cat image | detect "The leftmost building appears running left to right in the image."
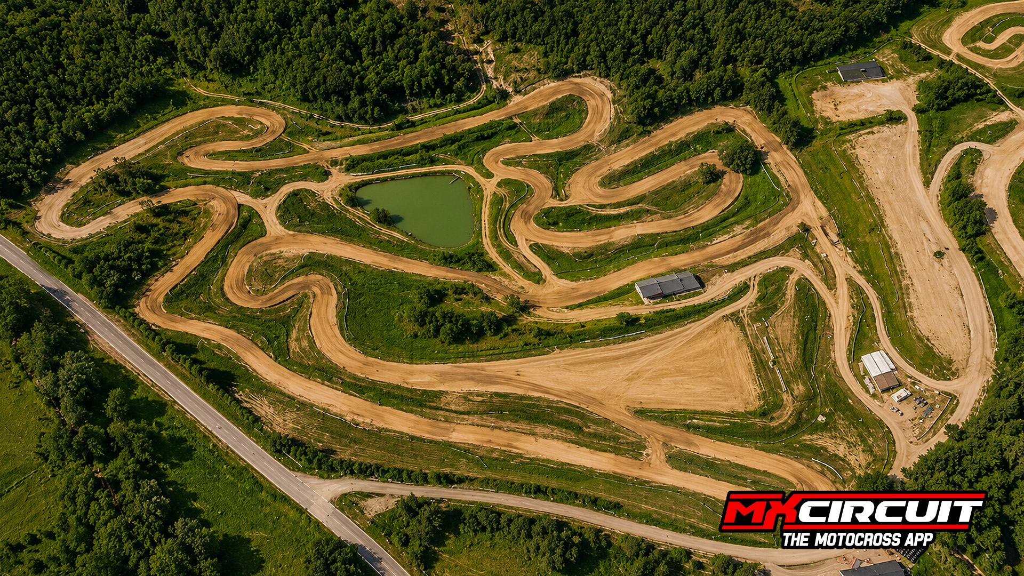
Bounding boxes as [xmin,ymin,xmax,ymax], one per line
[631,272,694,308]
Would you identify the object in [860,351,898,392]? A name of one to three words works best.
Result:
shed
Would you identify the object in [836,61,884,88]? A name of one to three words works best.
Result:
building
